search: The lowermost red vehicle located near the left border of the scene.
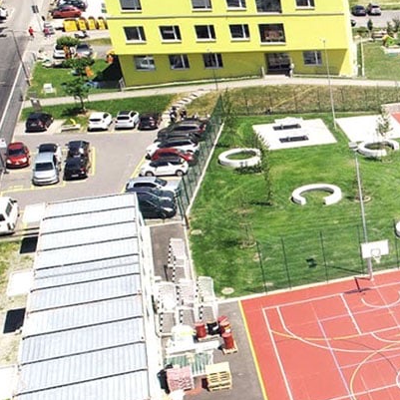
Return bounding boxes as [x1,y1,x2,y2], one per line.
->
[2,140,30,165]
